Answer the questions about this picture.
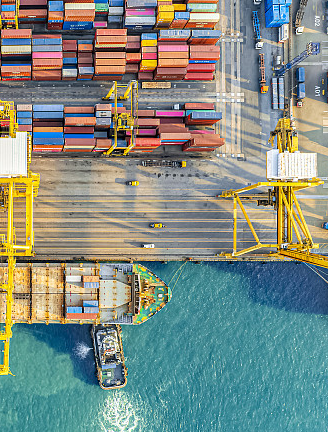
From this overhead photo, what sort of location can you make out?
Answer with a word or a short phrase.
port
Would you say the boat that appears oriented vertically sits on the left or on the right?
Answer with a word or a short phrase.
left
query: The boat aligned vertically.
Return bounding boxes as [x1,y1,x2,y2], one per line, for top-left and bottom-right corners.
[93,325,127,391]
